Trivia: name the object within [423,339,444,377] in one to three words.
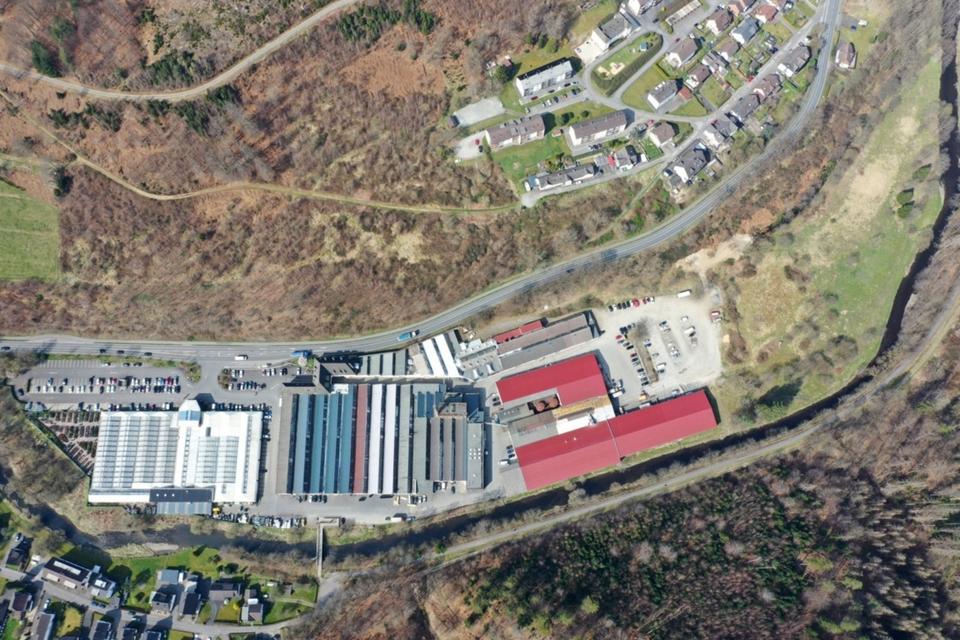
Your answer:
shed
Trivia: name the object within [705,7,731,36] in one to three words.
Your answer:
house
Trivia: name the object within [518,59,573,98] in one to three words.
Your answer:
building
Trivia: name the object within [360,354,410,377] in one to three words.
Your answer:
shed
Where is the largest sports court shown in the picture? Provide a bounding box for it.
[453,97,503,127]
